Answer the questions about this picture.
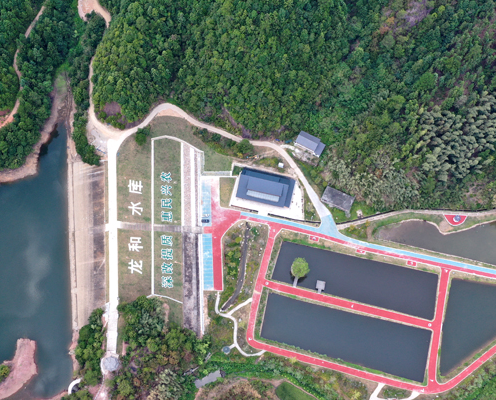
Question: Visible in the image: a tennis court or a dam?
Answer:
dam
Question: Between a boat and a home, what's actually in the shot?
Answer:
home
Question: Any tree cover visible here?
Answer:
Yes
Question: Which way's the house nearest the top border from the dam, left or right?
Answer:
to the right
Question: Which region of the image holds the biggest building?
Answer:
center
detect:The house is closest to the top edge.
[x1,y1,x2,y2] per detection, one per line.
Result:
[297,130,326,156]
